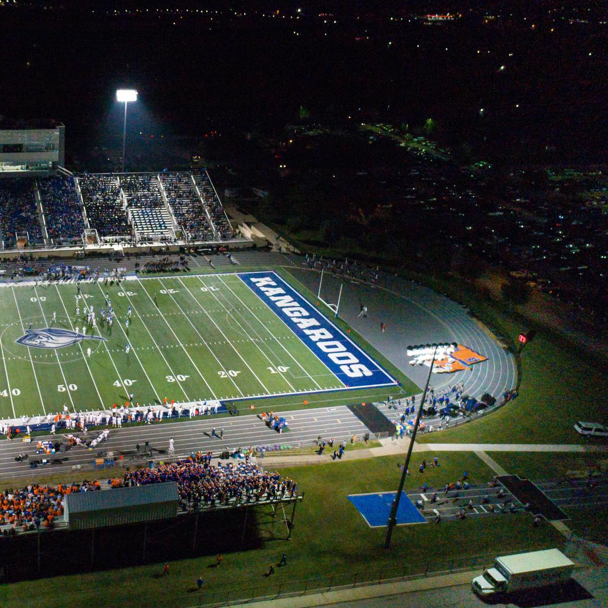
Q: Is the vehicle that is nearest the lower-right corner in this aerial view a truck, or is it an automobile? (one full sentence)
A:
It turns out the vehicle that is nearest the lower-right corner is a truck.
